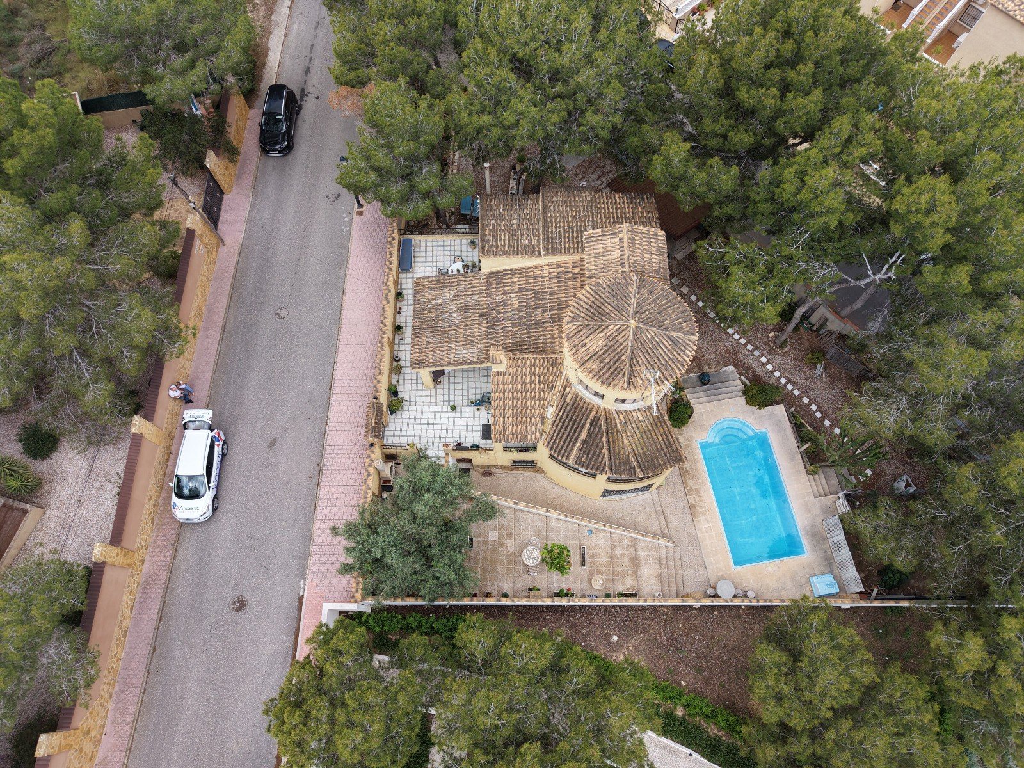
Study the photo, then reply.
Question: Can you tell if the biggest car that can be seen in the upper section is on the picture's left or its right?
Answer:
left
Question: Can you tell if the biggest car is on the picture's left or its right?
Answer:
left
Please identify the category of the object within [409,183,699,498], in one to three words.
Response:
house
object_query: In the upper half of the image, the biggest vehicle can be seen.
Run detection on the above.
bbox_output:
[252,74,302,155]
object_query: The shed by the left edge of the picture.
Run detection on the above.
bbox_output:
[0,496,53,579]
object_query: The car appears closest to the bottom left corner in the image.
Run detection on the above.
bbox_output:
[161,404,223,528]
